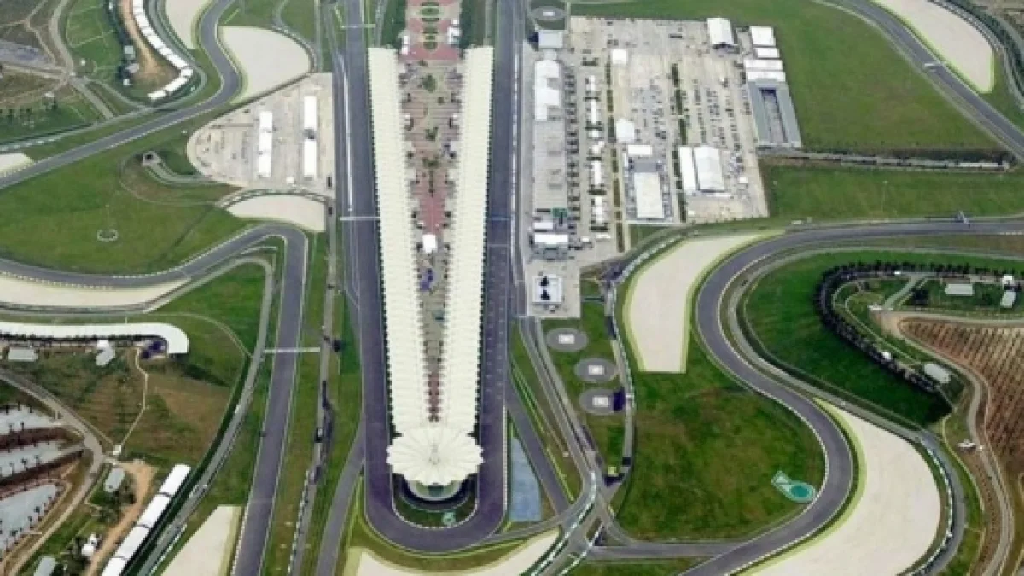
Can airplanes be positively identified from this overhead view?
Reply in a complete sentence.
No, there is no airplane in the image.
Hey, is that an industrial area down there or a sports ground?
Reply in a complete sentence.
It's a sports ground.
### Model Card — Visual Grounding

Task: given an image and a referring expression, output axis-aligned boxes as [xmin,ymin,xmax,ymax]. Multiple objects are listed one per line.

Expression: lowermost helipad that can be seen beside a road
[579,387,618,416]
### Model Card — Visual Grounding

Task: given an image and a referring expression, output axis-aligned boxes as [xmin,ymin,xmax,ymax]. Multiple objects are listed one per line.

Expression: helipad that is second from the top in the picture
[546,326,589,352]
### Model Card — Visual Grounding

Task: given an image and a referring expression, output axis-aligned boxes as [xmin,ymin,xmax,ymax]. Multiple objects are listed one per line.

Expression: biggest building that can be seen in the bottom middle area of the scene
[384,425,482,505]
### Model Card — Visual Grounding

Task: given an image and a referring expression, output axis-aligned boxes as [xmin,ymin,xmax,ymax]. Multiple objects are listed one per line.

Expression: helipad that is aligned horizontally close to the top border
[531,6,565,21]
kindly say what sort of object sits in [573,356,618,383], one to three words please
helipad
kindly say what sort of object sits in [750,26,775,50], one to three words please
shed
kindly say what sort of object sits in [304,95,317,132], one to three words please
tent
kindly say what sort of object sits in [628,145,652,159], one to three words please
tent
